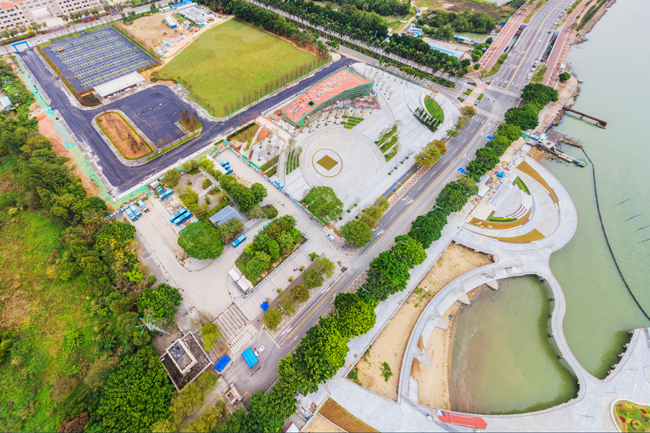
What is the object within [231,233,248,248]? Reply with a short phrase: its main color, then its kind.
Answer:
blue vehicle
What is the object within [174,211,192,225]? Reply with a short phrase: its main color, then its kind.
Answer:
blue vehicle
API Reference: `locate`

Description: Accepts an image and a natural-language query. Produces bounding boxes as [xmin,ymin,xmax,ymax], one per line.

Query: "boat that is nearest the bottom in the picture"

[438,409,489,430]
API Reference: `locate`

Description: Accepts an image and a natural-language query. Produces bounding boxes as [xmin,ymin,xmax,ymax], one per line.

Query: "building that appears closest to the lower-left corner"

[157,330,209,385]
